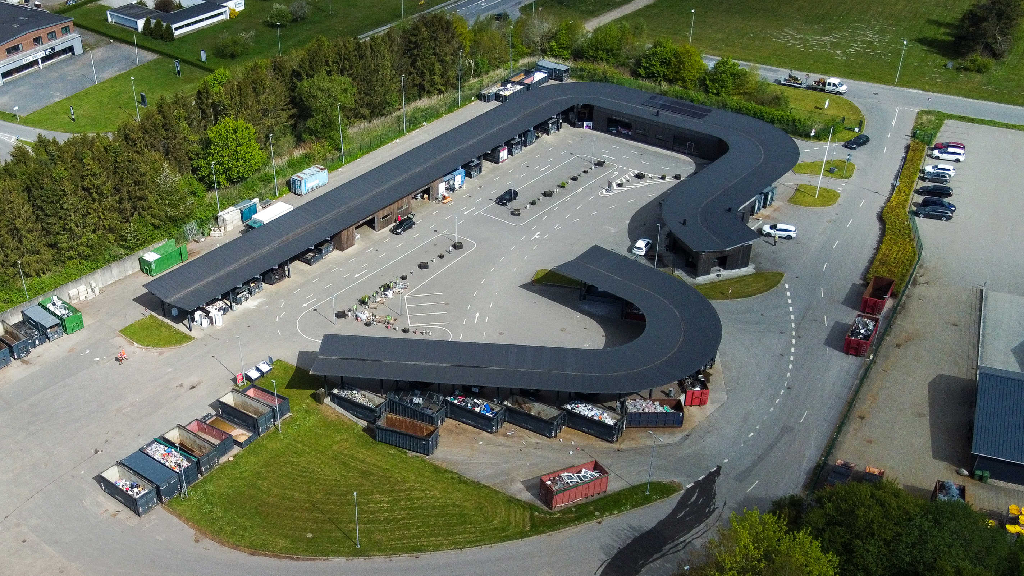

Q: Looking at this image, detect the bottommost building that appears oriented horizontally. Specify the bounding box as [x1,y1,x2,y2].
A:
[143,78,799,331]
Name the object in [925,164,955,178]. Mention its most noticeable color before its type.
white car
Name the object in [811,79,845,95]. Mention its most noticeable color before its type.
white vehicle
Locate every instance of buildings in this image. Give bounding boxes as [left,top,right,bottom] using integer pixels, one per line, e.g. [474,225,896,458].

[968,290,1024,483]
[107,0,246,39]
[143,78,799,331]
[0,0,83,84]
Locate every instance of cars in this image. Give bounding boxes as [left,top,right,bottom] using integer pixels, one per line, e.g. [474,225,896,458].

[764,224,795,240]
[925,164,955,178]
[933,148,962,162]
[936,140,964,151]
[925,172,949,185]
[924,199,956,213]
[917,207,950,221]
[391,211,417,234]
[847,134,870,149]
[497,189,520,205]
[921,186,952,200]
[632,238,651,255]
